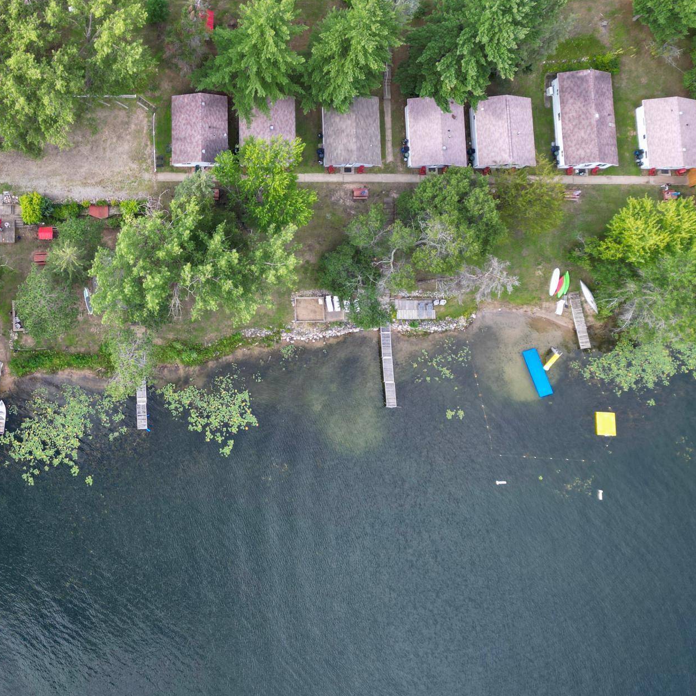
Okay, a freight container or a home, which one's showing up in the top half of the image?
home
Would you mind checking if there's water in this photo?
Yes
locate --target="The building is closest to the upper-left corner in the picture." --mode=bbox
[171,92,228,177]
